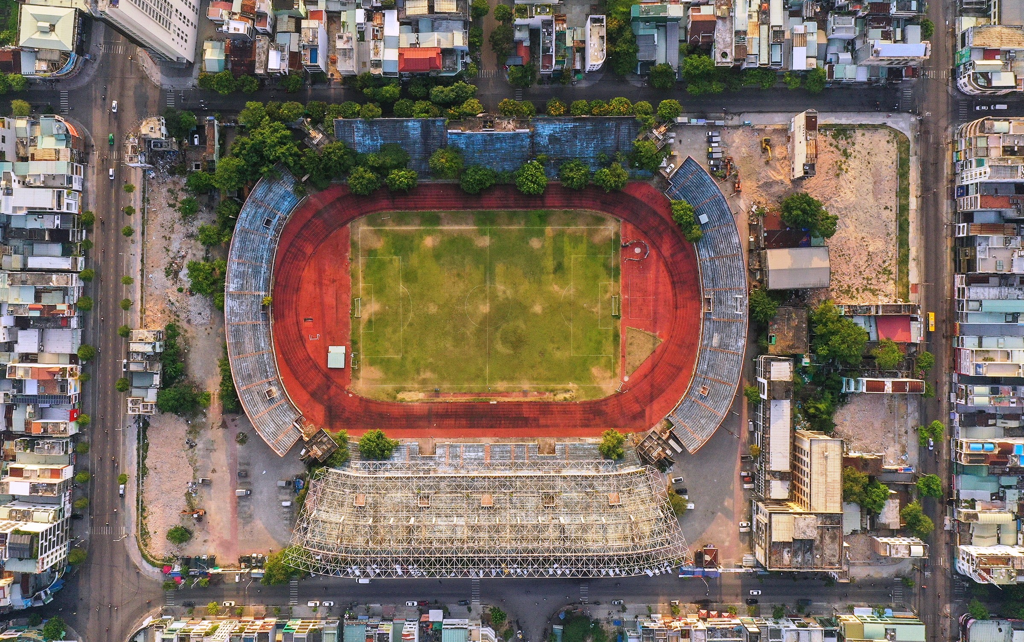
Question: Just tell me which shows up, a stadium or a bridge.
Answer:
stadium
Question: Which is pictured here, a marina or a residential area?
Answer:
residential area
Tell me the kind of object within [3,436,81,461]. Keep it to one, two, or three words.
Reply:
house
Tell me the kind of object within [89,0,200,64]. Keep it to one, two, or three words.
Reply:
building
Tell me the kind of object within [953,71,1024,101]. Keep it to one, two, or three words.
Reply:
house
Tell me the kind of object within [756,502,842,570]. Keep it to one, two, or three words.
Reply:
building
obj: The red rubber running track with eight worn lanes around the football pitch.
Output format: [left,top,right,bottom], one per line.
[274,183,703,438]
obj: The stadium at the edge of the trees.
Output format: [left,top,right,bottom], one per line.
[223,118,749,578]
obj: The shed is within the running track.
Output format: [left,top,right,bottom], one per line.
[326,346,345,369]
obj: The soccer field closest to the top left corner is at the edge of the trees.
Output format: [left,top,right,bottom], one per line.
[351,210,620,402]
